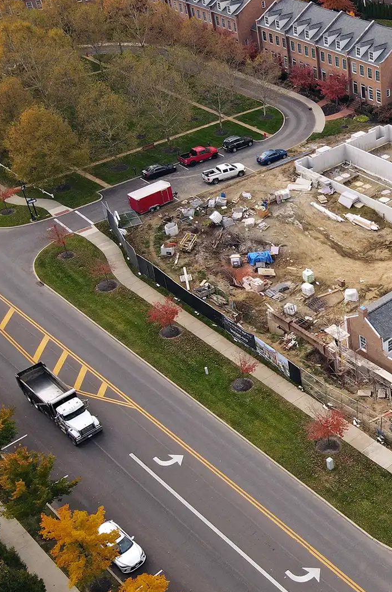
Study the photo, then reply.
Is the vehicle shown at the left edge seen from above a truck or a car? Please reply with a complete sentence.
Specifically, the vehicle shown at the left edge is a truck.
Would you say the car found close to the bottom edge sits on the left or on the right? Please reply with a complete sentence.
It is on the left.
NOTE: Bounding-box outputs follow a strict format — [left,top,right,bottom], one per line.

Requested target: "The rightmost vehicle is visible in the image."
[253,149,289,166]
